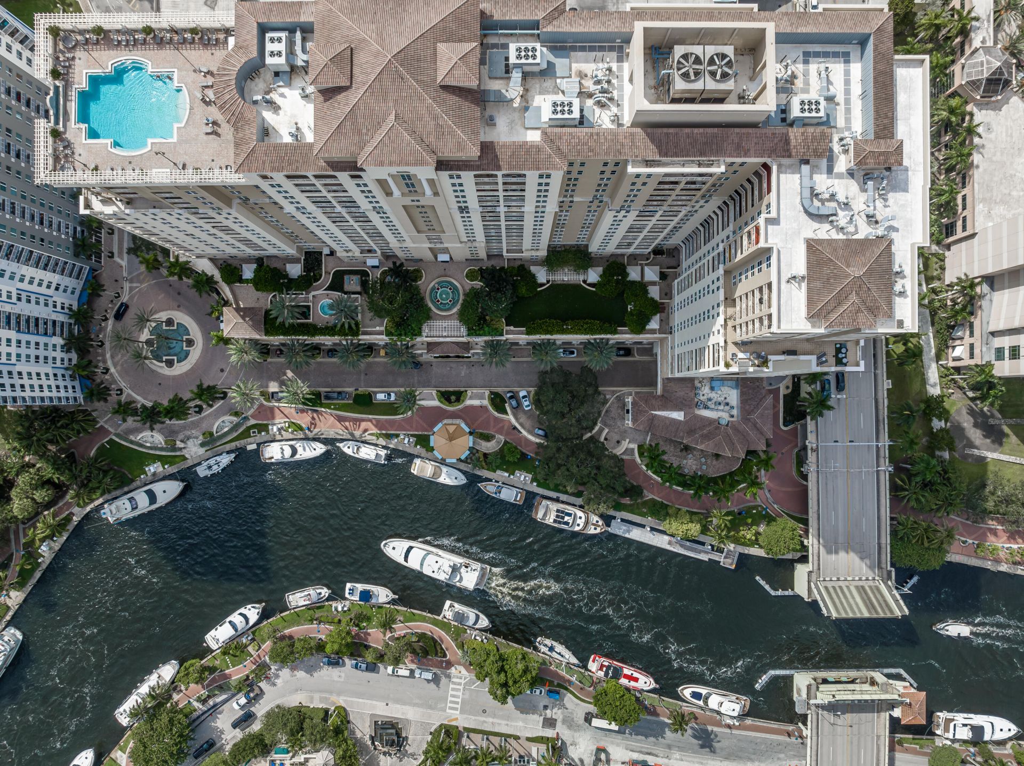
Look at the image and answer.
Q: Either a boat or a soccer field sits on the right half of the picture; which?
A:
boat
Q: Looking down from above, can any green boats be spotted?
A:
No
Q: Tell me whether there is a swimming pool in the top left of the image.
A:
Yes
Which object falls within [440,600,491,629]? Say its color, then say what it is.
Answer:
white boat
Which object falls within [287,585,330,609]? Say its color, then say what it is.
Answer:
white boat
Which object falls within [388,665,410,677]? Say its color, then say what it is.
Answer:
white vehicle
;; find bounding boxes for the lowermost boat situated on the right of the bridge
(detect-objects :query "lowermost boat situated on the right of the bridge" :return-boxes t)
[926,709,1024,743]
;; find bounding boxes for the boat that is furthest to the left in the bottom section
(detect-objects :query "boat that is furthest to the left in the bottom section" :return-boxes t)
[0,622,31,680]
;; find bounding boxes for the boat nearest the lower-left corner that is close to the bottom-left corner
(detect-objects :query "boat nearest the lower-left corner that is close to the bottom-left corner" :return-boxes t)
[66,746,98,766]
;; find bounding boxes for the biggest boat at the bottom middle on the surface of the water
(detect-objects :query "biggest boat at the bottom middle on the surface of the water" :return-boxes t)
[379,542,497,595]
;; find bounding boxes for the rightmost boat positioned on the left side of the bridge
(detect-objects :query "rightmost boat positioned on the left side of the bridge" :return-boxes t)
[677,683,752,718]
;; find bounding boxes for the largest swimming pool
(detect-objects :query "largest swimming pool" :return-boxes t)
[71,57,190,156]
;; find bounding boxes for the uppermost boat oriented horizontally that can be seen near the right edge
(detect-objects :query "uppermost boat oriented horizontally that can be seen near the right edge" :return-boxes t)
[930,622,973,638]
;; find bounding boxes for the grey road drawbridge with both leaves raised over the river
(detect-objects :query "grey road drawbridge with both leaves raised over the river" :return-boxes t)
[785,336,911,766]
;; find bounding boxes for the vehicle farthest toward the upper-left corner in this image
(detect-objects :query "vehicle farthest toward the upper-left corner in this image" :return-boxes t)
[114,300,130,322]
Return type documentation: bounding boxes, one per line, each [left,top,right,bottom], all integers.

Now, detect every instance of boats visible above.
[535,636,581,677]
[0,622,31,680]
[346,581,398,603]
[104,481,187,528]
[478,482,528,505]
[409,457,467,486]
[114,661,181,727]
[287,585,330,609]
[379,542,497,595]
[926,709,1024,743]
[198,453,239,477]
[528,498,608,535]
[677,683,752,718]
[440,600,491,629]
[337,442,390,465]
[203,603,266,650]
[930,622,973,638]
[66,746,98,766]
[585,653,659,690]
[260,439,328,463]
